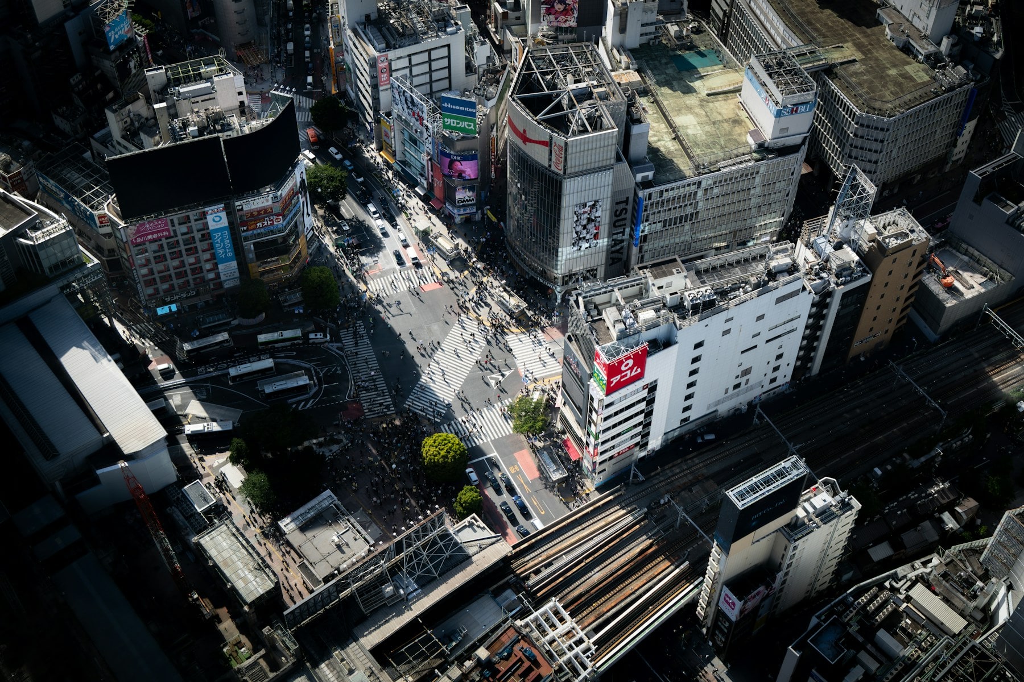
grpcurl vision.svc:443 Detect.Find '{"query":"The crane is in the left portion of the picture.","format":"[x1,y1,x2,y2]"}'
[117,462,221,634]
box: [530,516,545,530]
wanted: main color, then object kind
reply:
white vehicle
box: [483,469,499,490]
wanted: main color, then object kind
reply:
black car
